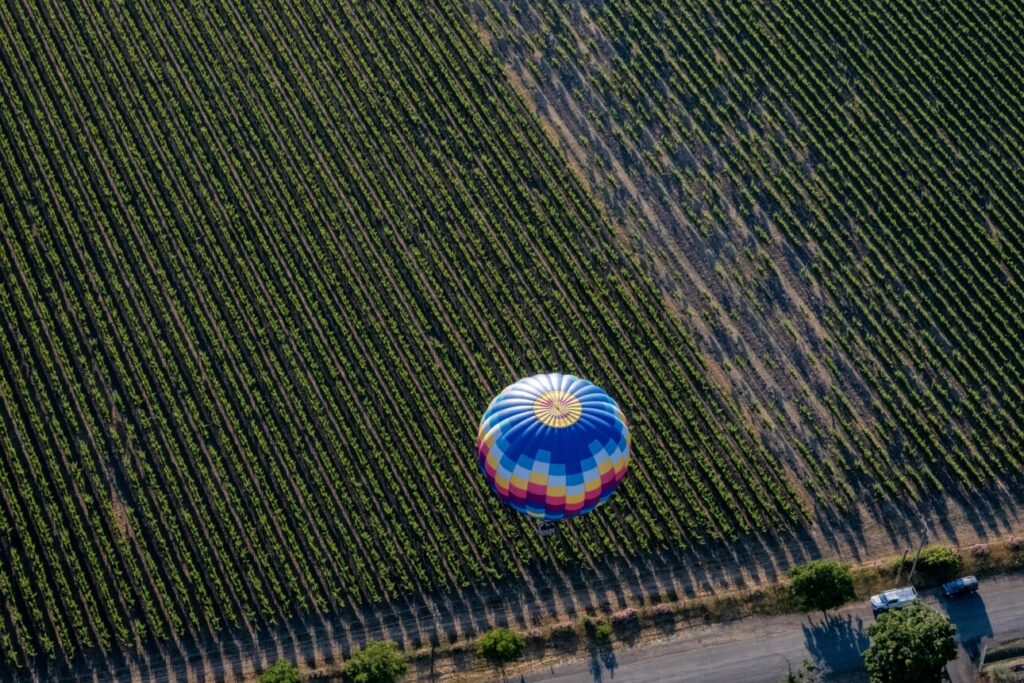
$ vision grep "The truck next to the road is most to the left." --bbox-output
[867,588,920,615]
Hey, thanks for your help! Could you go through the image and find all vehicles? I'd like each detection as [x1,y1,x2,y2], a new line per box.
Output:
[940,577,982,601]
[867,588,920,615]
